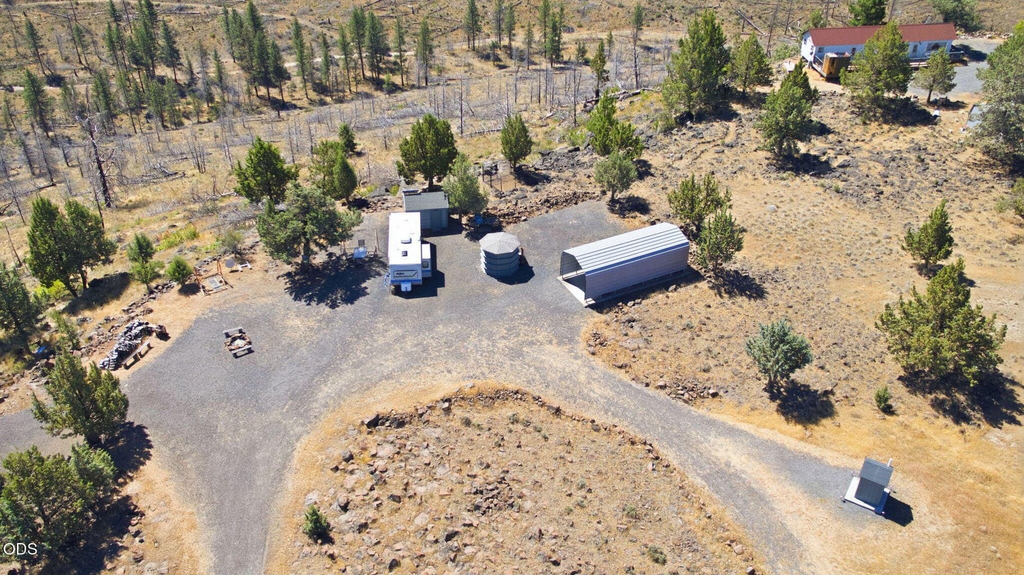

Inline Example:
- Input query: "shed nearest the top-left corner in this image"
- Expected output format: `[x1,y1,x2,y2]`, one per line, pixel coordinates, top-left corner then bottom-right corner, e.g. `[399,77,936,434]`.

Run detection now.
[404,189,449,232]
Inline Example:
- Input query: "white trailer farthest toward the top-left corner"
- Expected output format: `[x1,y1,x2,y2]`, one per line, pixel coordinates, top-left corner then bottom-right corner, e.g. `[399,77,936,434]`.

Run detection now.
[388,212,431,300]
